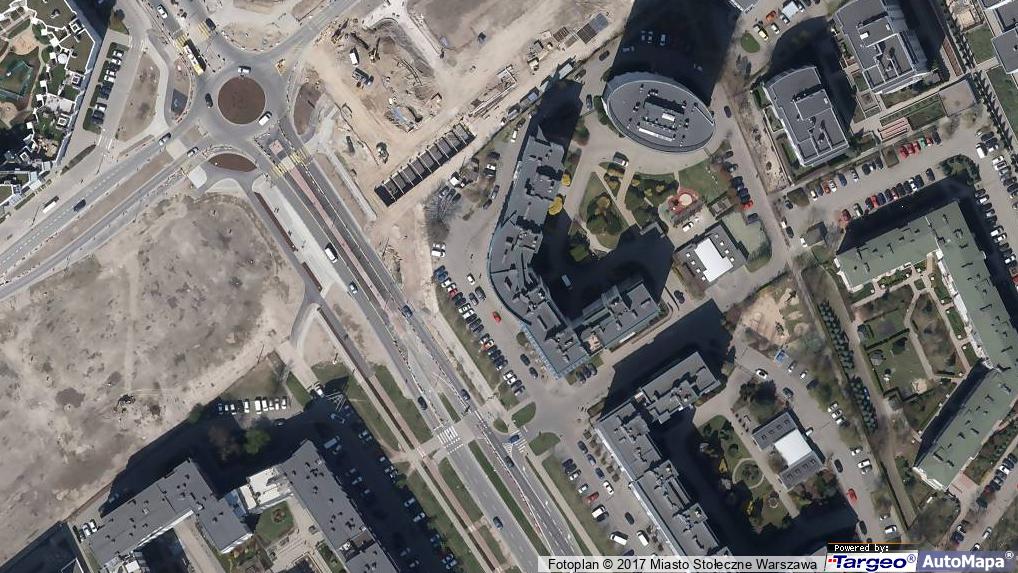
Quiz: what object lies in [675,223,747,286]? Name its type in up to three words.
building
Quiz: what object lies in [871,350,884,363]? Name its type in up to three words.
gazebo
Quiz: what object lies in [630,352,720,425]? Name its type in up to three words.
building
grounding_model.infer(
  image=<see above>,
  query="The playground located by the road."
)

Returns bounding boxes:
[671,187,698,214]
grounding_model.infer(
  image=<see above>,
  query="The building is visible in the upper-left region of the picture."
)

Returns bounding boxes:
[0,0,103,211]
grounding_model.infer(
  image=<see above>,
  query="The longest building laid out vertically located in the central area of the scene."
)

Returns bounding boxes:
[489,125,592,378]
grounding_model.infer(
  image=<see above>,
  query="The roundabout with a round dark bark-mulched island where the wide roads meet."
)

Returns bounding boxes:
[196,56,287,146]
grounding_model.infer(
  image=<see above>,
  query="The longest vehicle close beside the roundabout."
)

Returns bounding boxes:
[184,45,202,73]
